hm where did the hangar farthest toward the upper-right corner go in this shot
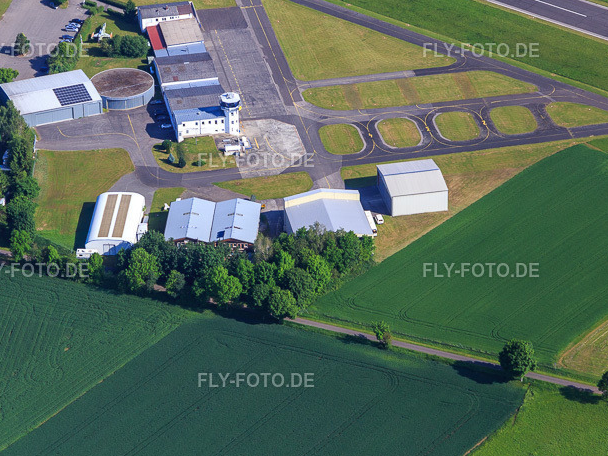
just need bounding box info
[377,158,450,216]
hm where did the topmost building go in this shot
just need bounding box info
[137,2,194,33]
